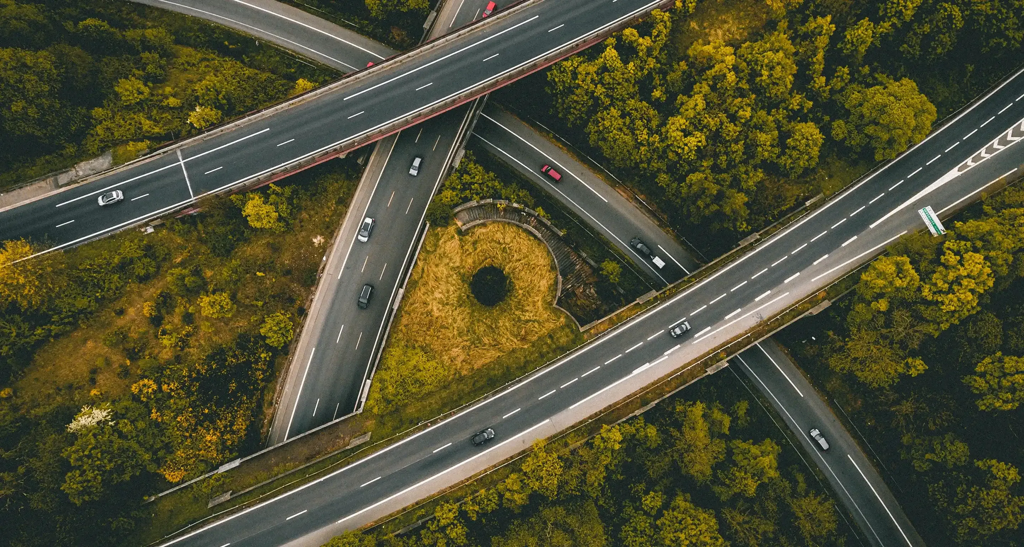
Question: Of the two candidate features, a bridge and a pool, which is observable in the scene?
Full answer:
The one in the frame is a bridge.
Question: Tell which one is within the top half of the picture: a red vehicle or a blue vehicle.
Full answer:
There is a red vehicle within the top half of the picture.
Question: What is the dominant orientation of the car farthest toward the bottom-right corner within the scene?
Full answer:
The car farthest toward the bottom-right corner is laid out on a diagonal.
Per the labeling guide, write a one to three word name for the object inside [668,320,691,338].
car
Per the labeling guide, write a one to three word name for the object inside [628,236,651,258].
car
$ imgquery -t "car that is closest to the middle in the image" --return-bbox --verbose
[541,165,562,182]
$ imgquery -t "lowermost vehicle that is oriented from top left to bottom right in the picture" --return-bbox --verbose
[808,427,831,452]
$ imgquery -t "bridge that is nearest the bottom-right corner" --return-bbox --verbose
[620,221,835,391]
